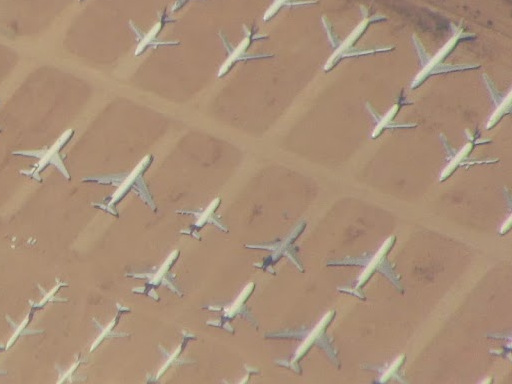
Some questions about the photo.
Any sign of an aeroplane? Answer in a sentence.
Yes, there is an aeroplane in the image.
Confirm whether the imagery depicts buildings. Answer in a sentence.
No, no building can be seen from above.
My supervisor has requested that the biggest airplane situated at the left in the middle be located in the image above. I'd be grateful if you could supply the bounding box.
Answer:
[82,154,157,217]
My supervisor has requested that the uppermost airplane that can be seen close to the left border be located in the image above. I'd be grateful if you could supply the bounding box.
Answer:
[12,129,73,181]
